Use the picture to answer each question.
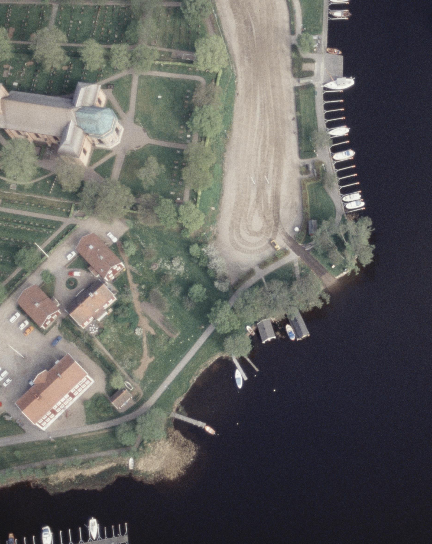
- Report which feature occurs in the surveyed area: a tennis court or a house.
house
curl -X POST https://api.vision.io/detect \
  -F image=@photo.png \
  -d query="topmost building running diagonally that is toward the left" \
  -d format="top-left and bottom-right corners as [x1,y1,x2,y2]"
[76,233,124,280]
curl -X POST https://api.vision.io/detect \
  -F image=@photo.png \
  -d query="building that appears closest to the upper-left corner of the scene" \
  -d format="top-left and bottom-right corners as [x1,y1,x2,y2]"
[0,82,127,166]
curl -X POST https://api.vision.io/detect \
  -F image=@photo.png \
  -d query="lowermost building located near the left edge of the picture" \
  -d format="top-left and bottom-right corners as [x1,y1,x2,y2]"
[15,353,94,431]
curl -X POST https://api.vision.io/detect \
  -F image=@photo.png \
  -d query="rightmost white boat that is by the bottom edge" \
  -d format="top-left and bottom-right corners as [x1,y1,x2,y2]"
[86,518,98,539]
